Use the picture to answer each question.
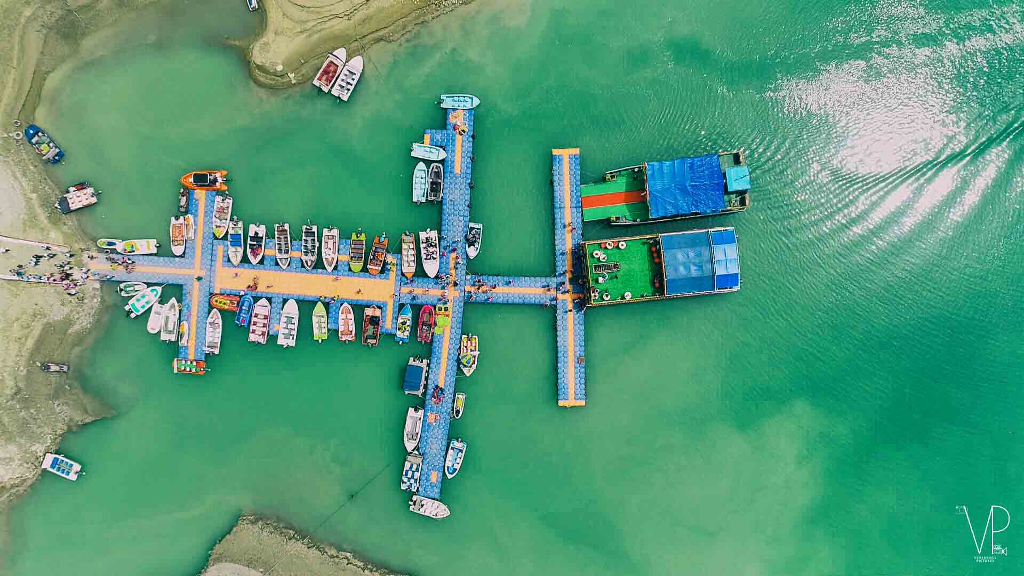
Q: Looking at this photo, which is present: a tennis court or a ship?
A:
ship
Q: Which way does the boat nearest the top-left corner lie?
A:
diagonally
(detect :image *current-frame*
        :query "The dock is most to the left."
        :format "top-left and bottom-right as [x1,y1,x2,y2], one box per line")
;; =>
[88,252,186,284]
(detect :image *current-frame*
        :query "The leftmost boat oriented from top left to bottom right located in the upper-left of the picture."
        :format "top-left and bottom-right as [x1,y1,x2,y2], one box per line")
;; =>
[25,124,68,167]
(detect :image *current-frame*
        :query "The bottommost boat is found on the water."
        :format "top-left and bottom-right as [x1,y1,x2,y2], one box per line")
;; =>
[407,495,450,518]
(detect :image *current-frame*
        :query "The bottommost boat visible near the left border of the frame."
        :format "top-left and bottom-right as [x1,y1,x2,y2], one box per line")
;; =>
[42,454,88,480]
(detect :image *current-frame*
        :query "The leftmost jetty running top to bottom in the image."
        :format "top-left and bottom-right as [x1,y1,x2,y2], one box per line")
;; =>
[178,188,218,361]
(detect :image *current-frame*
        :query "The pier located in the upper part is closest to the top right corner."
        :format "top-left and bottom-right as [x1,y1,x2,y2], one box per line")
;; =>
[552,148,582,208]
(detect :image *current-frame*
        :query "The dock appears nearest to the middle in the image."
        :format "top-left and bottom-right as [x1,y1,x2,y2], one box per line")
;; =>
[464,274,556,309]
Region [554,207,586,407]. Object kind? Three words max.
pier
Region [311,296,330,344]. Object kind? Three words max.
boat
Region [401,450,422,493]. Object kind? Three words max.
boat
